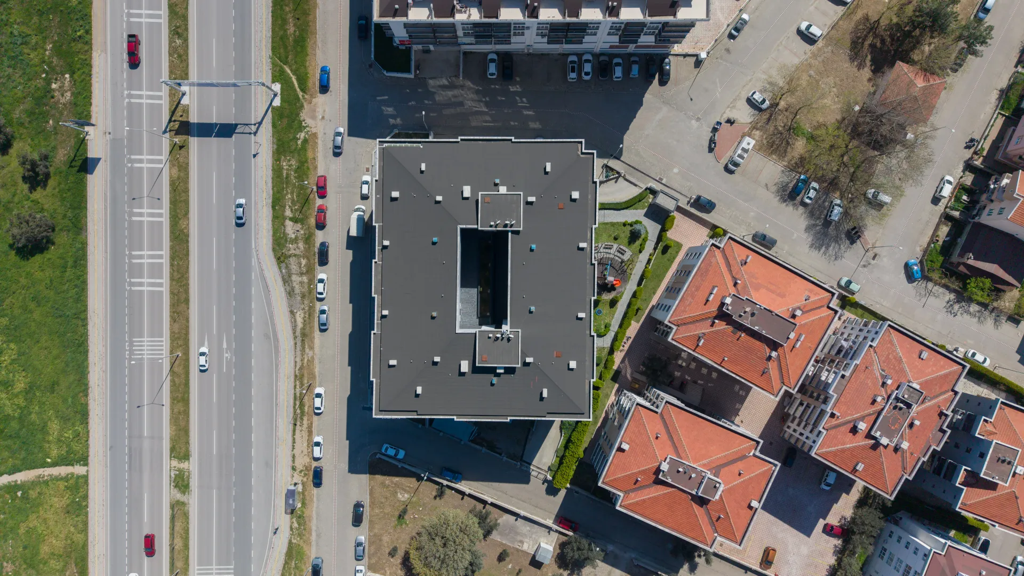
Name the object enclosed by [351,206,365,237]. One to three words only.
vehicle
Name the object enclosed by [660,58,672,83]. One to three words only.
vehicle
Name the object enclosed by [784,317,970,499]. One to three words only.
building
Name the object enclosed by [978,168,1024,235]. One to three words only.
house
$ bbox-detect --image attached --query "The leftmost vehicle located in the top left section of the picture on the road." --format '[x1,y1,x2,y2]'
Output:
[126,36,141,66]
